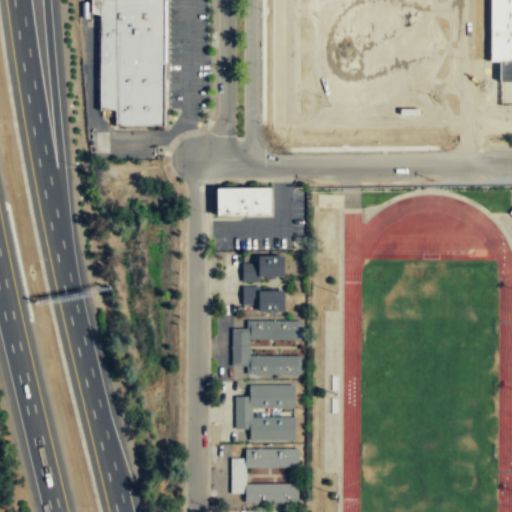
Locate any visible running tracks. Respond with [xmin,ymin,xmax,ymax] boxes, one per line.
[345,195,512,512]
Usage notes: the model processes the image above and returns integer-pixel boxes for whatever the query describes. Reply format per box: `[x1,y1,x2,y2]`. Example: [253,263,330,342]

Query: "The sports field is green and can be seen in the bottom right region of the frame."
[362,261,499,512]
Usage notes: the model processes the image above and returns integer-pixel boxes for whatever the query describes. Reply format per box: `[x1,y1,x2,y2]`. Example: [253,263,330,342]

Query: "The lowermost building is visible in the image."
[232,449,300,502]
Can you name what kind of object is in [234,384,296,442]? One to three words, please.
building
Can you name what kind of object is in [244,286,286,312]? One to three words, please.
house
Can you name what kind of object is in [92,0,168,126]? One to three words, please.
building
